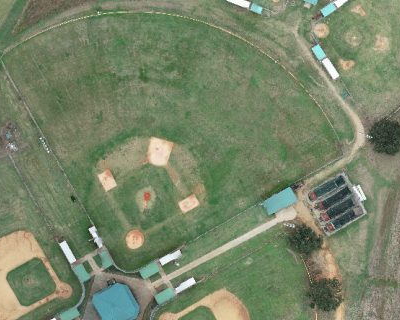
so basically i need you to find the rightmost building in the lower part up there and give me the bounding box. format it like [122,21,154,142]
[263,187,297,216]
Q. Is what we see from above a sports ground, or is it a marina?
sports ground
